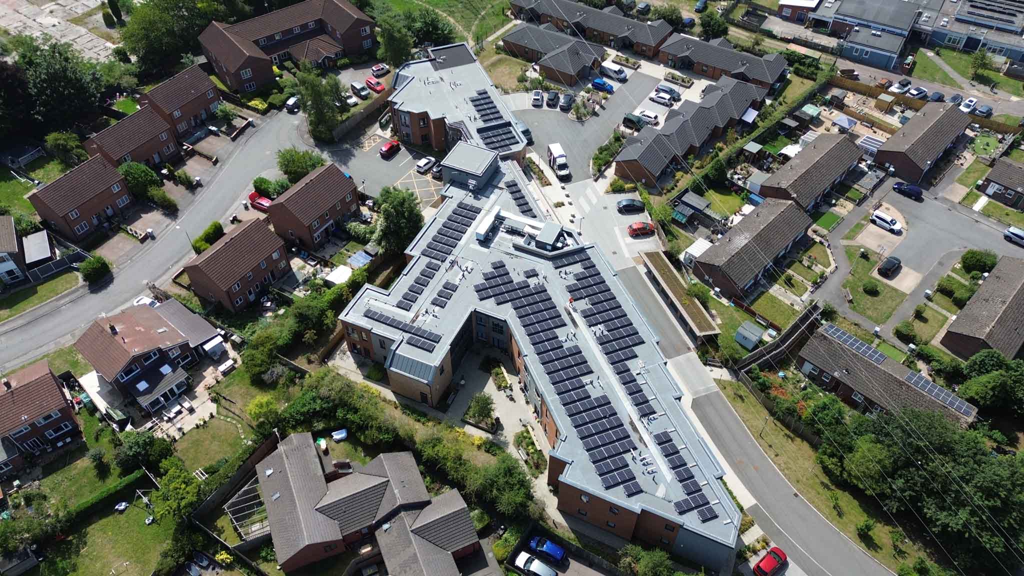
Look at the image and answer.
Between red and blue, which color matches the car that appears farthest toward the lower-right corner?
red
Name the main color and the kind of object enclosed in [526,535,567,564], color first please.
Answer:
blue car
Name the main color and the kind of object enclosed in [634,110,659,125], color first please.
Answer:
white car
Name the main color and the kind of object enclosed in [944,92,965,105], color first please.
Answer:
gray vehicle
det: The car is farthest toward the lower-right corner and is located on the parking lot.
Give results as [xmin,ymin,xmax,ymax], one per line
[750,546,789,576]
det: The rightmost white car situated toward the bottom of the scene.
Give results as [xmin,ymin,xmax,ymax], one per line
[516,552,557,576]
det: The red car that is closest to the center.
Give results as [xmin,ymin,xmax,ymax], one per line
[628,224,655,237]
